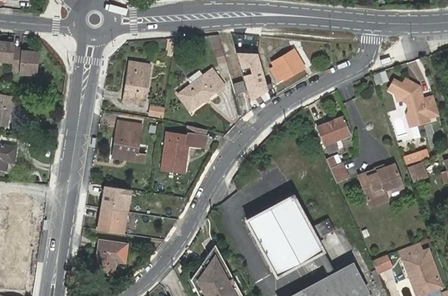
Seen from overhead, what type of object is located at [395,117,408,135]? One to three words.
swimming pool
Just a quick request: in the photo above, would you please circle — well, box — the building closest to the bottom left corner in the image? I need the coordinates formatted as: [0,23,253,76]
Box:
[96,240,130,273]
